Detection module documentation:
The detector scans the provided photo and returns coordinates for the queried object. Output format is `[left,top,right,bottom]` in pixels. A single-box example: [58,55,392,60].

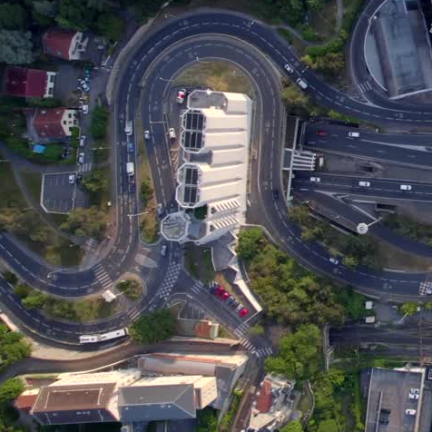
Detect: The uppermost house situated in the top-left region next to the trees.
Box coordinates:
[44,28,88,60]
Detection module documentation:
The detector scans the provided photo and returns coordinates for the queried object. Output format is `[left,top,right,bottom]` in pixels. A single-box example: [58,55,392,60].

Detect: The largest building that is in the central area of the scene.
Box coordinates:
[161,90,253,270]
